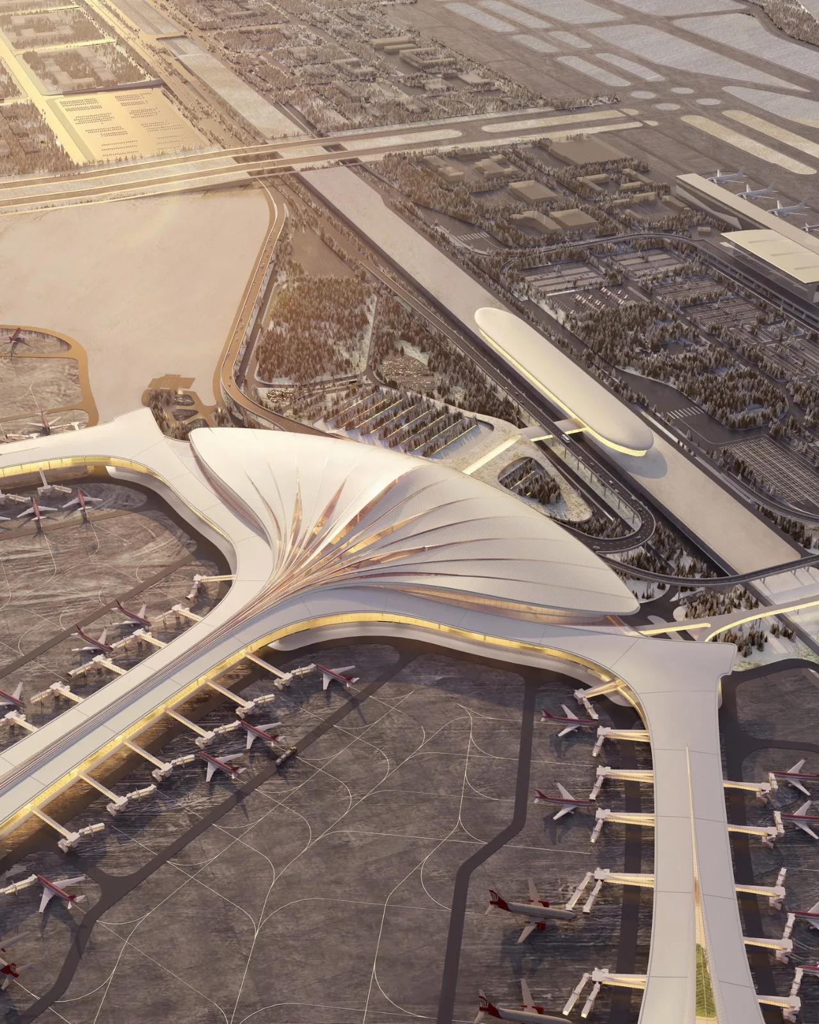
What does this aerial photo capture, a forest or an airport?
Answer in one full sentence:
It's an airport.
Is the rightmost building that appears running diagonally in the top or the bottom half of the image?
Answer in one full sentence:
You can find the rightmost building that appears running diagonally in the top half.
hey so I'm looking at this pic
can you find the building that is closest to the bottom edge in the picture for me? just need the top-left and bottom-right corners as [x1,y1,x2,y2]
[0,408,765,1024]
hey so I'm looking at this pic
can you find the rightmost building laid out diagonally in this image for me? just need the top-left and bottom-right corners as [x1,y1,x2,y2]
[676,173,819,298]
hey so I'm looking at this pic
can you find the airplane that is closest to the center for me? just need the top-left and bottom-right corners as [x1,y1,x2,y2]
[316,661,362,689]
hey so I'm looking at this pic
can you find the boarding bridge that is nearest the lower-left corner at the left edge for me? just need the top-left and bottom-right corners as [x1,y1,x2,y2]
[0,872,41,900]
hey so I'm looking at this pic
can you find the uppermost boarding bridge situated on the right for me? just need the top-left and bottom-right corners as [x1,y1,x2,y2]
[572,678,625,722]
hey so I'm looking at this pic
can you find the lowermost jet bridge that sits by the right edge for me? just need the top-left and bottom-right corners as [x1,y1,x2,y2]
[758,965,804,1024]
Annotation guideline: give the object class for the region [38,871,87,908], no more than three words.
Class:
airplane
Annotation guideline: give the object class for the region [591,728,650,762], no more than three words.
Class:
jet bridge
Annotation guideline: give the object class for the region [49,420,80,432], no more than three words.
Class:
jet bridge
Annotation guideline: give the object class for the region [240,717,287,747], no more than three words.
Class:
airplane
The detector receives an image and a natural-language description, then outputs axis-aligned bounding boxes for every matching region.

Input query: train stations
[475,307,653,458]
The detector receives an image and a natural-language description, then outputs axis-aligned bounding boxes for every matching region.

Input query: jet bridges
[589,809,655,848]
[589,765,654,805]
[0,872,41,900]
[28,683,83,707]
[0,710,39,732]
[758,965,804,1024]
[207,683,278,721]
[744,911,795,968]
[572,678,625,722]
[152,606,204,625]
[35,810,109,857]
[40,472,74,499]
[728,810,782,853]
[561,968,647,1024]
[109,630,166,653]
[566,869,655,920]
[591,728,650,762]
[169,711,243,749]
[65,656,128,681]
[723,771,777,808]
[186,575,235,603]
[735,866,787,914]
[49,420,80,432]
[126,743,199,783]
[82,776,160,819]
[250,654,317,692]
[0,489,33,508]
